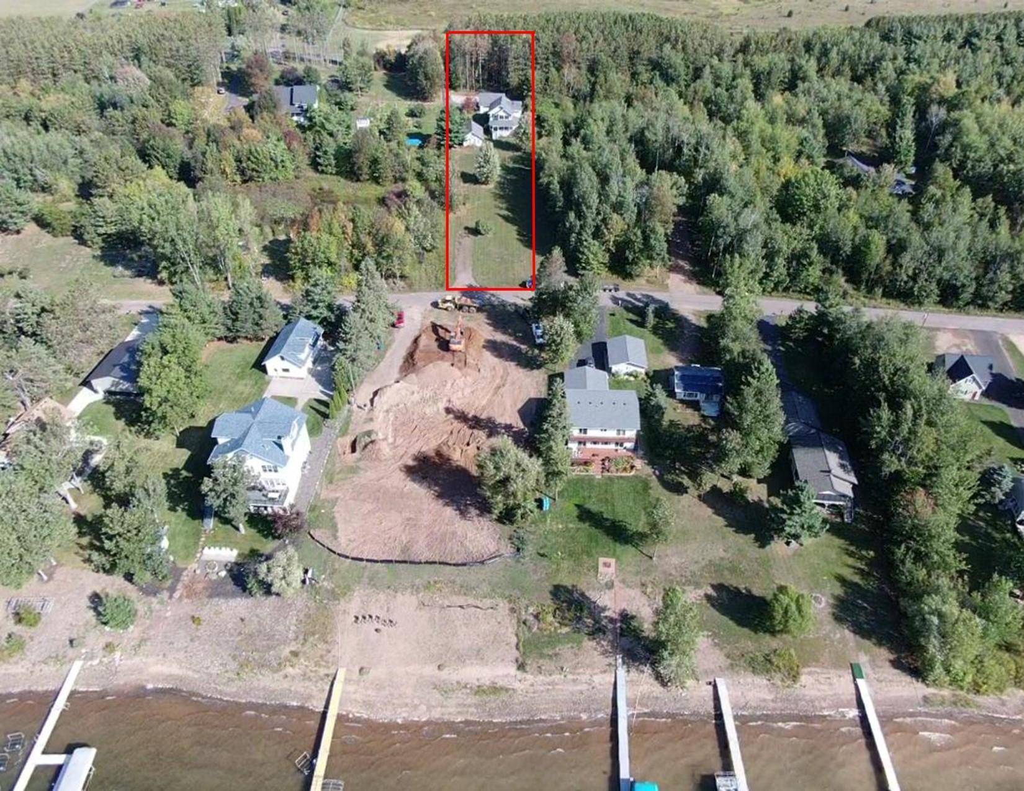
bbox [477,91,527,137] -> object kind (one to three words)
house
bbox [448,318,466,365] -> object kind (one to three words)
work vehicle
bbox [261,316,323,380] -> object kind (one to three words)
building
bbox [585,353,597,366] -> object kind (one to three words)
vehicle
